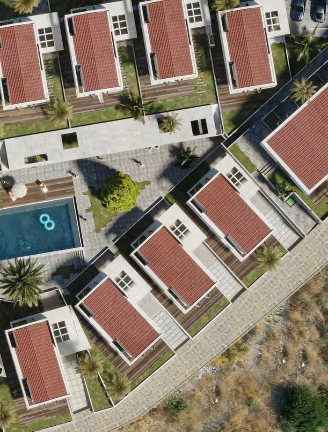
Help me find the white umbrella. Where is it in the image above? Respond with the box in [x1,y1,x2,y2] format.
[12,182,27,198]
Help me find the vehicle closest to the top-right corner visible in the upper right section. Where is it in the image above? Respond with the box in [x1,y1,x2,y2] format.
[310,0,327,24]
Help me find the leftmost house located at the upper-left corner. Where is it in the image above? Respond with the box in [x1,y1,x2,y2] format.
[0,13,65,115]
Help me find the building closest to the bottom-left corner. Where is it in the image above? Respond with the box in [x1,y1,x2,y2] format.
[4,306,91,410]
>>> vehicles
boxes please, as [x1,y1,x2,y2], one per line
[310,0,327,24]
[291,0,307,22]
